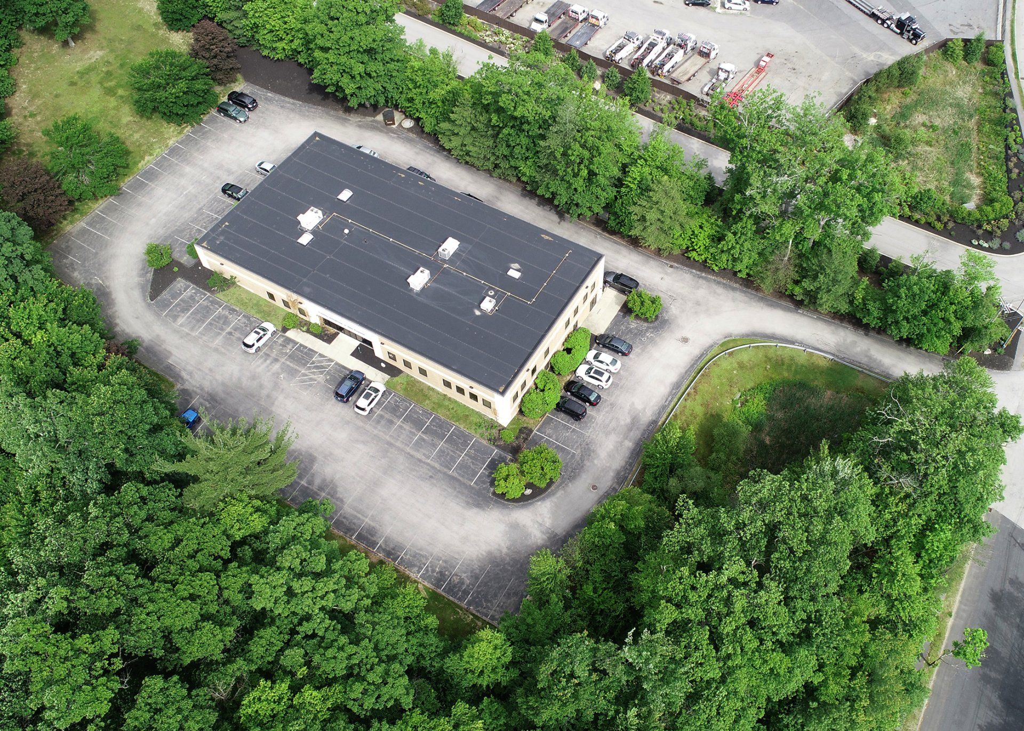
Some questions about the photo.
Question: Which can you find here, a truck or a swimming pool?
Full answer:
Looking from above, you can make out a truck.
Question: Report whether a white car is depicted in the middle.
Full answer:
Yes, looking in the middle, one can make out a white car.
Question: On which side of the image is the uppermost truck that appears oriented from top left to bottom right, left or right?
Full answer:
You can find the uppermost truck that appears oriented from top left to bottom right on the right side of the picture.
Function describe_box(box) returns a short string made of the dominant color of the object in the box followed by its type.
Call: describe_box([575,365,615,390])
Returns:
white car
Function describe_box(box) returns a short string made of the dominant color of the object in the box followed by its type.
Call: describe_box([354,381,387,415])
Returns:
white car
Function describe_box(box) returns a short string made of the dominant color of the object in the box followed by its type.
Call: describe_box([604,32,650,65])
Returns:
white truck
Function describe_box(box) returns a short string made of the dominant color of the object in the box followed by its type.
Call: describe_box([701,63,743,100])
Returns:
white vehicle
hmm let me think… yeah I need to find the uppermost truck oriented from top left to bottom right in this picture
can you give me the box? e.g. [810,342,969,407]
[859,0,931,44]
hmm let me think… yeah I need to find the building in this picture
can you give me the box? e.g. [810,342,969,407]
[194,131,606,427]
